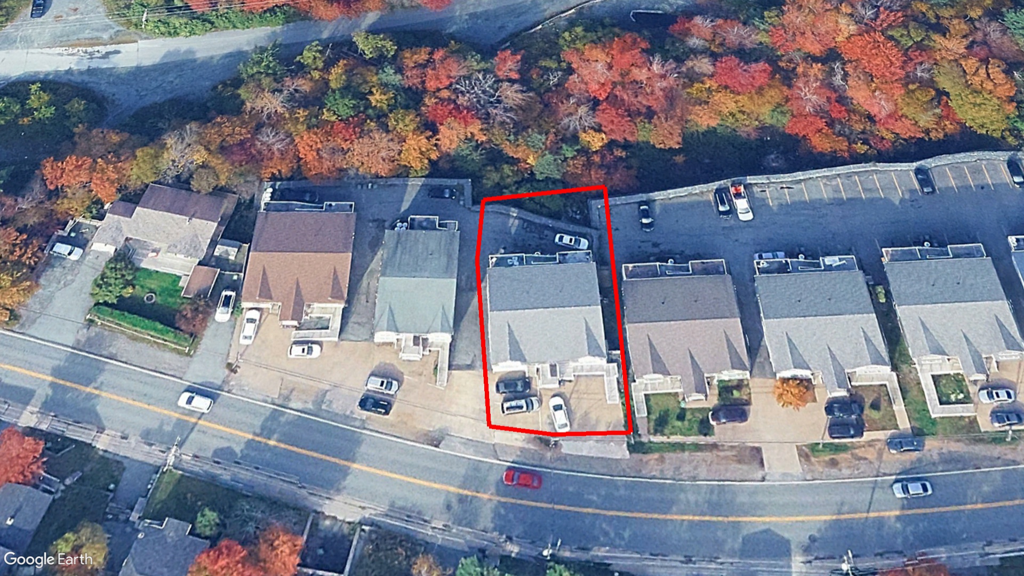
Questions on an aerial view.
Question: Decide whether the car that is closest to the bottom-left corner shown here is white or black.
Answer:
white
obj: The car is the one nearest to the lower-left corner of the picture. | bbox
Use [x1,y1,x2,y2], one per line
[177,390,216,412]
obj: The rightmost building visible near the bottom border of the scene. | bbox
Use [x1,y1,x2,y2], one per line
[113,518,211,576]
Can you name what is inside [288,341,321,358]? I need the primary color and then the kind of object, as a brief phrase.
white car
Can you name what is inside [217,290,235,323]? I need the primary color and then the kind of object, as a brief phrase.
white car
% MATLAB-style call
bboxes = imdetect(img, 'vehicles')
[639,201,654,232]
[730,181,752,222]
[886,435,925,452]
[239,310,259,345]
[502,469,543,489]
[825,399,863,417]
[978,386,1015,404]
[714,185,732,219]
[28,0,44,19]
[709,406,750,424]
[288,341,321,358]
[500,394,541,415]
[495,377,531,394]
[553,231,590,253]
[217,290,235,323]
[892,480,933,497]
[1005,156,1024,189]
[365,375,400,395]
[279,188,319,206]
[914,165,934,195]
[753,250,785,262]
[357,394,394,415]
[989,410,1024,429]
[177,390,216,412]
[49,240,85,261]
